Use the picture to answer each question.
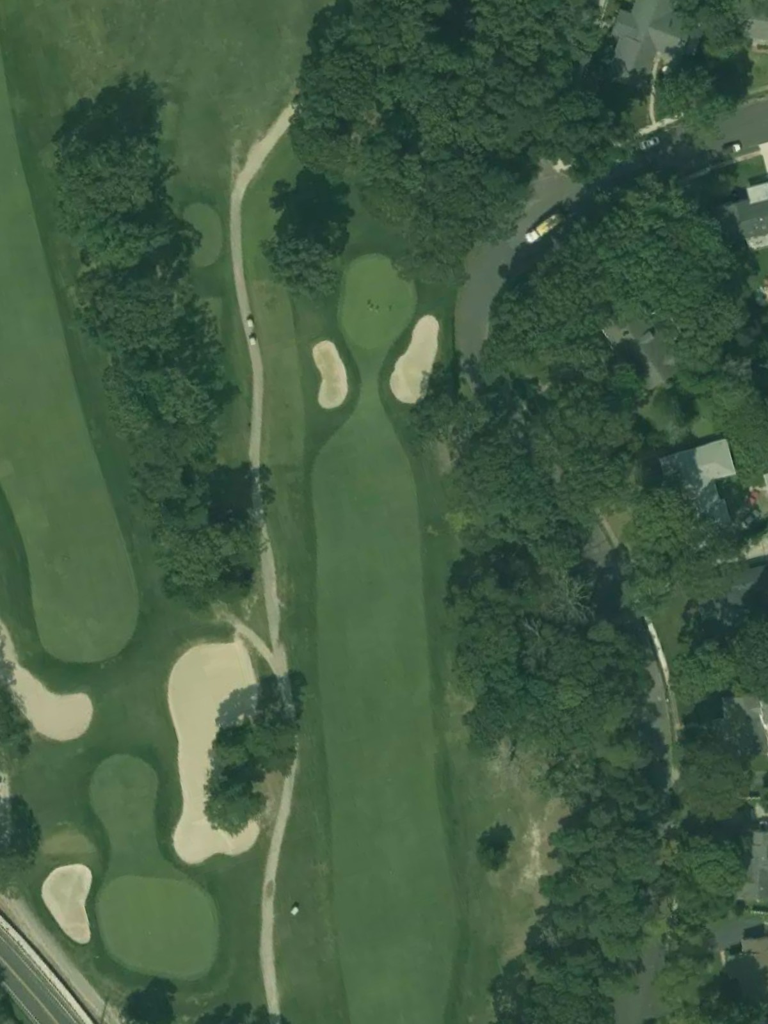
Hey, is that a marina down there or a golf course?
golf course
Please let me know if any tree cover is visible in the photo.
Yes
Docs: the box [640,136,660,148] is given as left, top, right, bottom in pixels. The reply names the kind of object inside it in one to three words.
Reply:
vehicle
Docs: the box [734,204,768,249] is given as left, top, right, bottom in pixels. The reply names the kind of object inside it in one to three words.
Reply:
house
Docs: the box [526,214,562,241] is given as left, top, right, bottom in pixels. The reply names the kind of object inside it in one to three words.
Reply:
truck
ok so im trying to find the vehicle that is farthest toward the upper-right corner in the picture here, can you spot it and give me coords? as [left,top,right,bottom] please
[724,141,743,154]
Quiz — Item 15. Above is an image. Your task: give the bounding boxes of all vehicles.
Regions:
[640,136,660,148]
[247,319,254,329]
[724,141,743,154]
[291,904,299,914]
[526,214,562,241]
[250,336,257,347]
